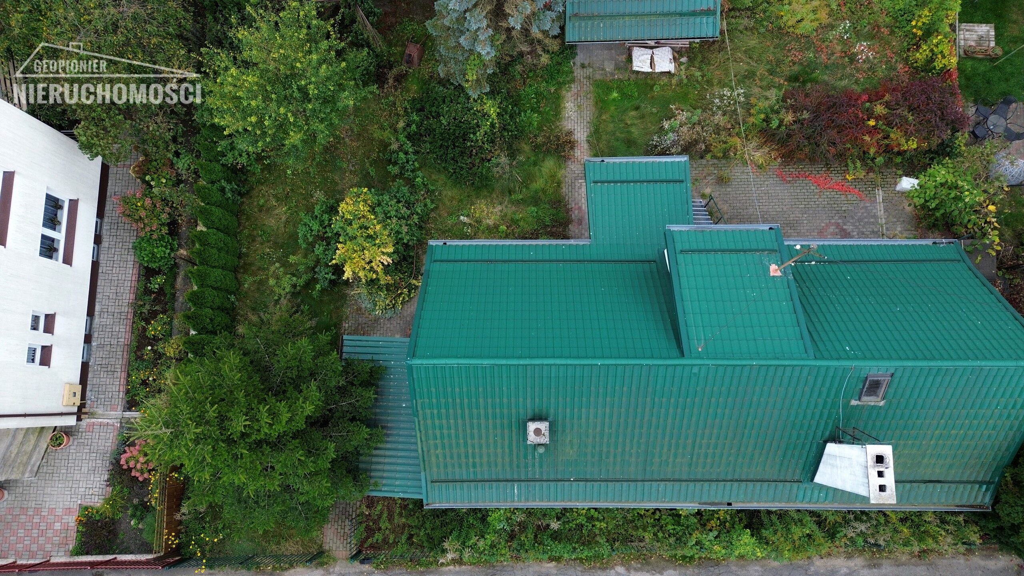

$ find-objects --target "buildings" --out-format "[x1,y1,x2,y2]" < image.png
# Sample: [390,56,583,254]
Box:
[567,0,722,45]
[0,100,108,428]
[405,155,1024,510]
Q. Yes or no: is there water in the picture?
No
